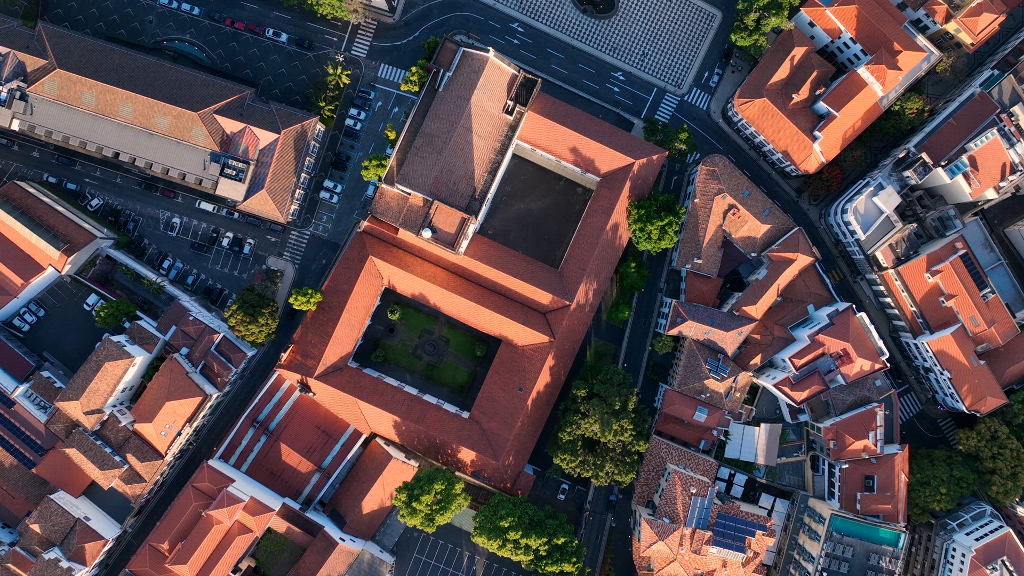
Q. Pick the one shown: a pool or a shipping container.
pool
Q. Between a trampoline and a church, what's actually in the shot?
church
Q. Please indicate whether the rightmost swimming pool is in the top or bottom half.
bottom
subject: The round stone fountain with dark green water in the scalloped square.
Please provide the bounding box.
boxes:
[568,0,621,22]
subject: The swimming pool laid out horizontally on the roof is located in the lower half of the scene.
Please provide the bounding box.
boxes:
[829,516,901,548]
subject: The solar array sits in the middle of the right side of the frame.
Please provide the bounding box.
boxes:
[960,252,987,289]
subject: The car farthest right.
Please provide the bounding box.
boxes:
[891,364,909,386]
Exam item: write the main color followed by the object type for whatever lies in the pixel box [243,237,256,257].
blue vehicle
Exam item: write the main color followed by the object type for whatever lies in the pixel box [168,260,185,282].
blue car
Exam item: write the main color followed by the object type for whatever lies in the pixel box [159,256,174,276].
blue car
